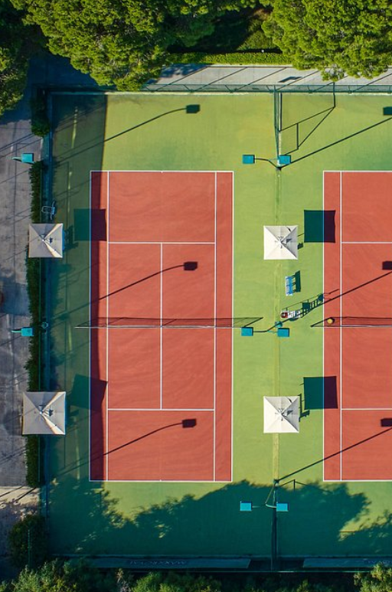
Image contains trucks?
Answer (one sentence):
No, no truck can be seen from above.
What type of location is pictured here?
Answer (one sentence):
This looks like a sports ground.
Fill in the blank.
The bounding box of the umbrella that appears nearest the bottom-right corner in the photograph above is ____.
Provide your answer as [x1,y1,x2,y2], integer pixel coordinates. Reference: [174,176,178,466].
[264,395,301,432]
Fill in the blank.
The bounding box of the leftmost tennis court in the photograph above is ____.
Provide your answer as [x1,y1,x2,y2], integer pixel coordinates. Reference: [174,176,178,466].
[51,92,276,555]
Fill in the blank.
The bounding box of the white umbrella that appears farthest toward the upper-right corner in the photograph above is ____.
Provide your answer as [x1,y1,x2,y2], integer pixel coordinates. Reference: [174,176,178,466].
[264,225,299,260]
